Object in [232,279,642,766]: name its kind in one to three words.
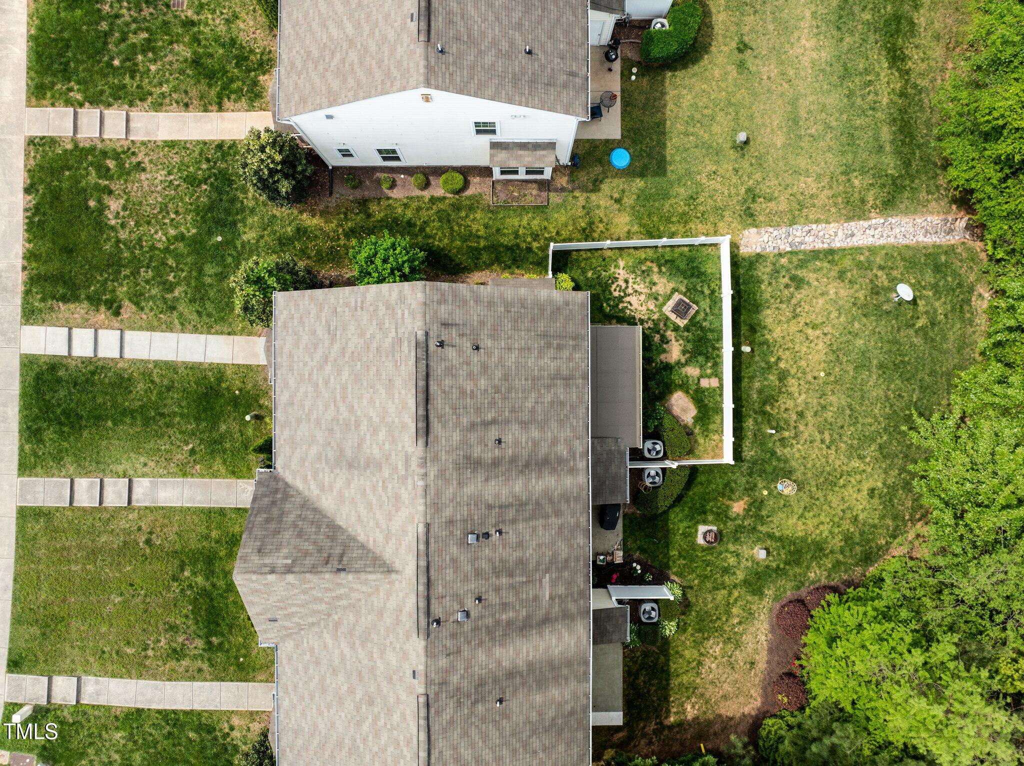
house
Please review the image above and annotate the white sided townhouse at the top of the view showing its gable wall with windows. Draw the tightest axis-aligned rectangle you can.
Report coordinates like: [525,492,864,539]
[268,0,631,180]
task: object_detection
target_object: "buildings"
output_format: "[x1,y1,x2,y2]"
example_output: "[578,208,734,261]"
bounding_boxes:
[232,279,642,766]
[268,0,631,180]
